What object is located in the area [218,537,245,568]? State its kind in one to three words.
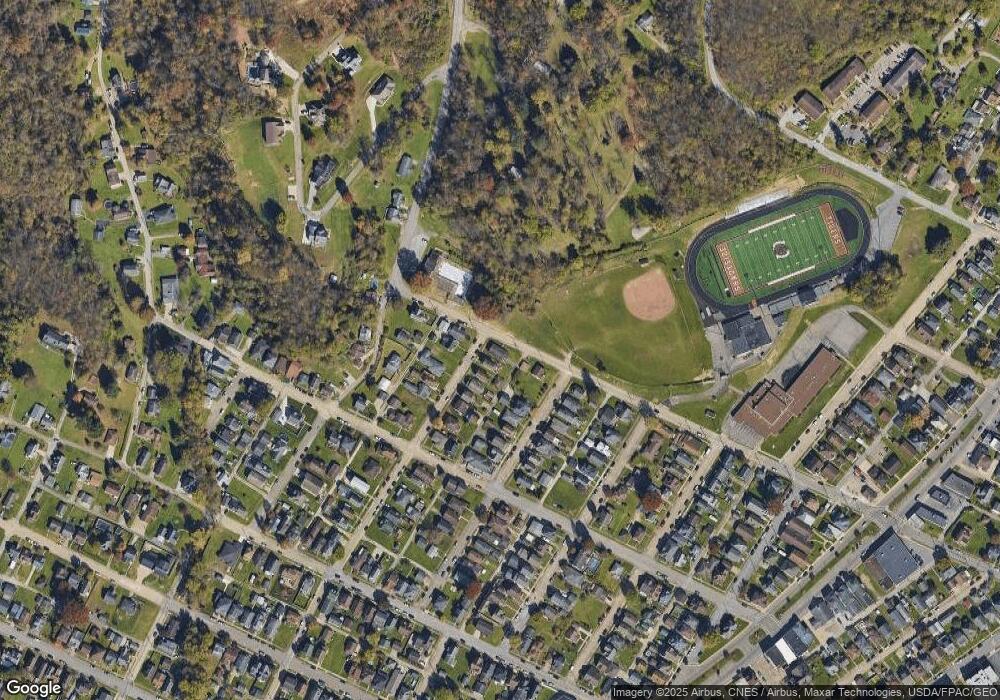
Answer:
house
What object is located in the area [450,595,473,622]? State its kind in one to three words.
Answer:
house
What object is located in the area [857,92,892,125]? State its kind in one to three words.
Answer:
building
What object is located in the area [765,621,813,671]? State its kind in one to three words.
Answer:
building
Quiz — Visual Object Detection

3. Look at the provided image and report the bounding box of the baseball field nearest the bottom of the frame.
[624,267,675,321]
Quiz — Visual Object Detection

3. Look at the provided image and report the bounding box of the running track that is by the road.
[690,185,872,320]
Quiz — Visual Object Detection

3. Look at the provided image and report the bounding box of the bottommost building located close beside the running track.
[733,349,841,438]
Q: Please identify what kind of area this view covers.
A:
residential area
